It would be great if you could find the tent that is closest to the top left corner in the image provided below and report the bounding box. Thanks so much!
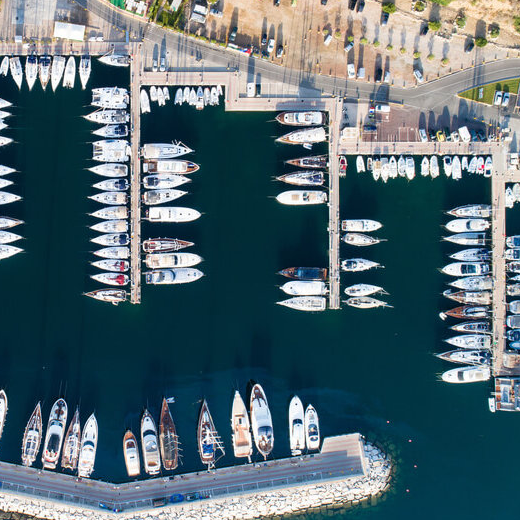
[52,21,86,44]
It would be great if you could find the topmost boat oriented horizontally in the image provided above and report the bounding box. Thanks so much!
[97,51,129,67]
